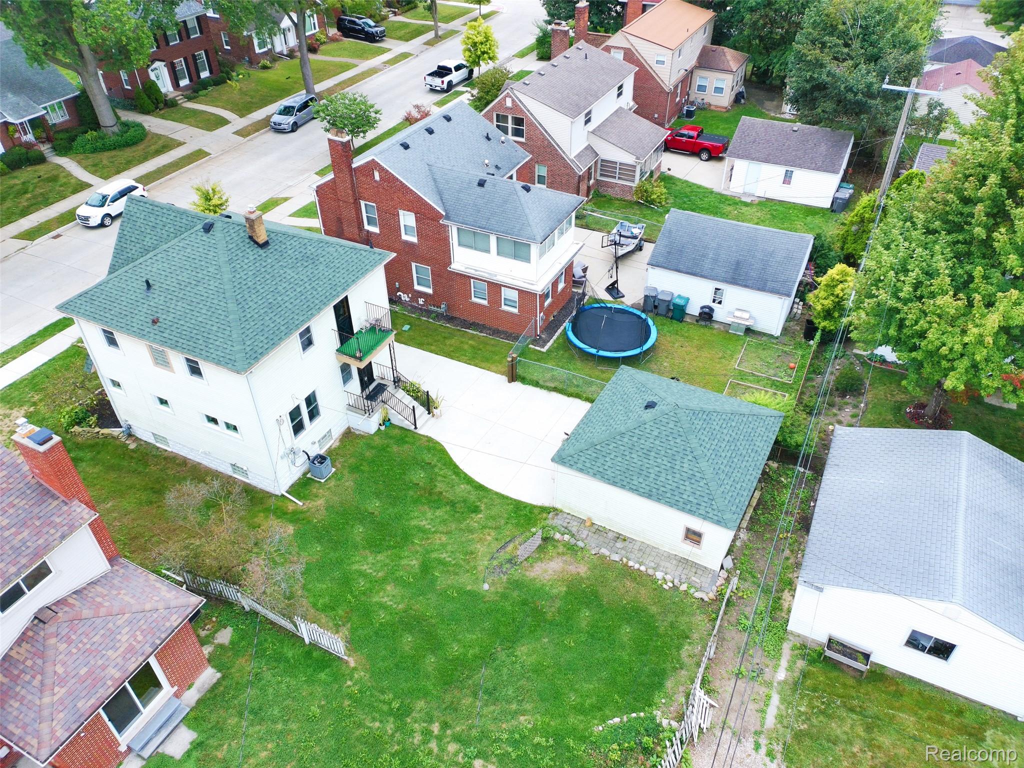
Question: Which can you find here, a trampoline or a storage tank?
trampoline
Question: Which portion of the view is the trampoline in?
center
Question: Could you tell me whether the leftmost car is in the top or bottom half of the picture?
top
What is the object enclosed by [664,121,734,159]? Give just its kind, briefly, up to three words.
truck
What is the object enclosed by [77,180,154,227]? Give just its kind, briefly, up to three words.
car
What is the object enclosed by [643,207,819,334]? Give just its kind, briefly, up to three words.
building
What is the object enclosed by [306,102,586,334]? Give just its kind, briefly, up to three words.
house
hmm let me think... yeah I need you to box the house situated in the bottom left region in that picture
[0,420,214,768]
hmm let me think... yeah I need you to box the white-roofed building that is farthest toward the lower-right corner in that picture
[786,427,1024,722]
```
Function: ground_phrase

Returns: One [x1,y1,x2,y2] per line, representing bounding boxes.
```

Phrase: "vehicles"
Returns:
[333,17,384,43]
[664,121,734,159]
[77,180,154,227]
[426,59,478,91]
[269,93,327,132]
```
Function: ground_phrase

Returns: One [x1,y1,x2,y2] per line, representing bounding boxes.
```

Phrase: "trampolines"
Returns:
[563,276,658,371]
